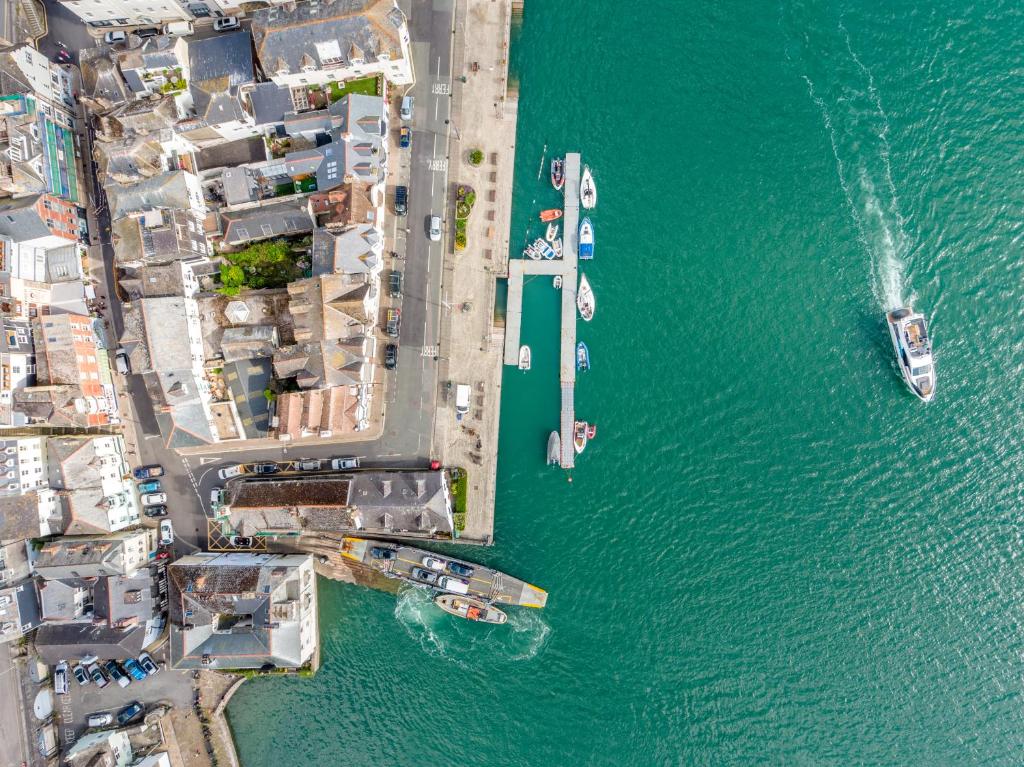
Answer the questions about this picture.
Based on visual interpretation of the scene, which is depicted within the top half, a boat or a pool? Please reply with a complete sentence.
Visible within the top half is a boat.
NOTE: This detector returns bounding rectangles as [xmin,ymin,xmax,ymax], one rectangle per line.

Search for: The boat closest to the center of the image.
[519,346,531,371]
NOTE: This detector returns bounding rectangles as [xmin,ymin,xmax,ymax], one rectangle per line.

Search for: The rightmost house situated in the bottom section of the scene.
[350,467,454,534]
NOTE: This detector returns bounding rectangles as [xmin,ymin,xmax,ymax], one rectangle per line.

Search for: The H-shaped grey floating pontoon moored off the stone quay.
[504,153,580,468]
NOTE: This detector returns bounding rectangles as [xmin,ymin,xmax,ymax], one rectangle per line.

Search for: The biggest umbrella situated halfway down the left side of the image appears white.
[226,298,248,323]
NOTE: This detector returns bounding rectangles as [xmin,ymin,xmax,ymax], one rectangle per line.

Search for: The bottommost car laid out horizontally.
[86,711,115,726]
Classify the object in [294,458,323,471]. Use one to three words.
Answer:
vehicle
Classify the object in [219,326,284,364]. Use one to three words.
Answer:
house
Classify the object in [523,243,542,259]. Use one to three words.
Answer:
boat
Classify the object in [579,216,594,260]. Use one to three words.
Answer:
boat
